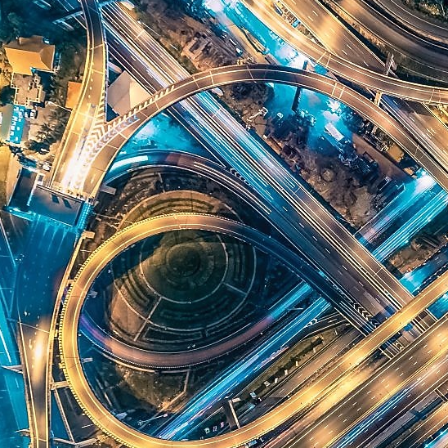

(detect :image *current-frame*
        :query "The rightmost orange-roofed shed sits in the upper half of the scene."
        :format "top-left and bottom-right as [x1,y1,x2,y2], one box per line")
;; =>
[64,81,82,108]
